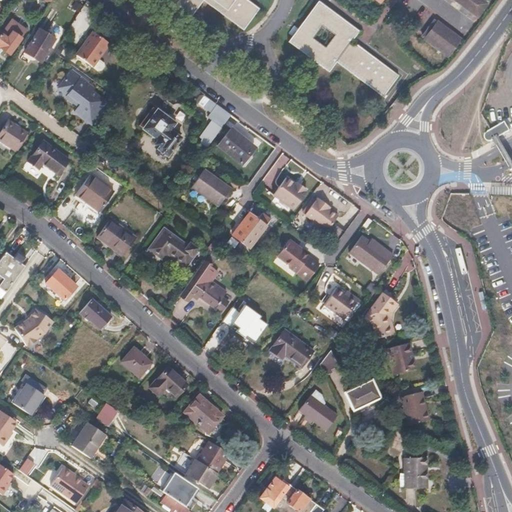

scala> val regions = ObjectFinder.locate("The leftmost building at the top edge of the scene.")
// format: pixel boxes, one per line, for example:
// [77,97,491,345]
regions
[0,19,28,56]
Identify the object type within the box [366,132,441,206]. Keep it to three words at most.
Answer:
roundabout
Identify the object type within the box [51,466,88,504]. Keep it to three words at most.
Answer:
house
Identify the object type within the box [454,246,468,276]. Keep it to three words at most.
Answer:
vehicle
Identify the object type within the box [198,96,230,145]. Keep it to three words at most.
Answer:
building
